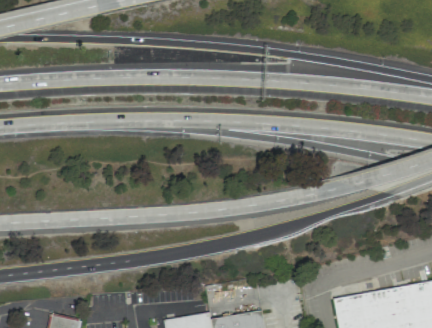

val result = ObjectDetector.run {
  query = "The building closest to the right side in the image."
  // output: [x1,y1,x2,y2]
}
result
[334,280,432,328]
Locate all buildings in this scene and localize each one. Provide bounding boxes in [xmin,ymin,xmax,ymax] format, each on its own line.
[212,312,262,328]
[50,314,82,328]
[164,313,211,328]
[334,280,432,328]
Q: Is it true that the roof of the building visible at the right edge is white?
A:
Yes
